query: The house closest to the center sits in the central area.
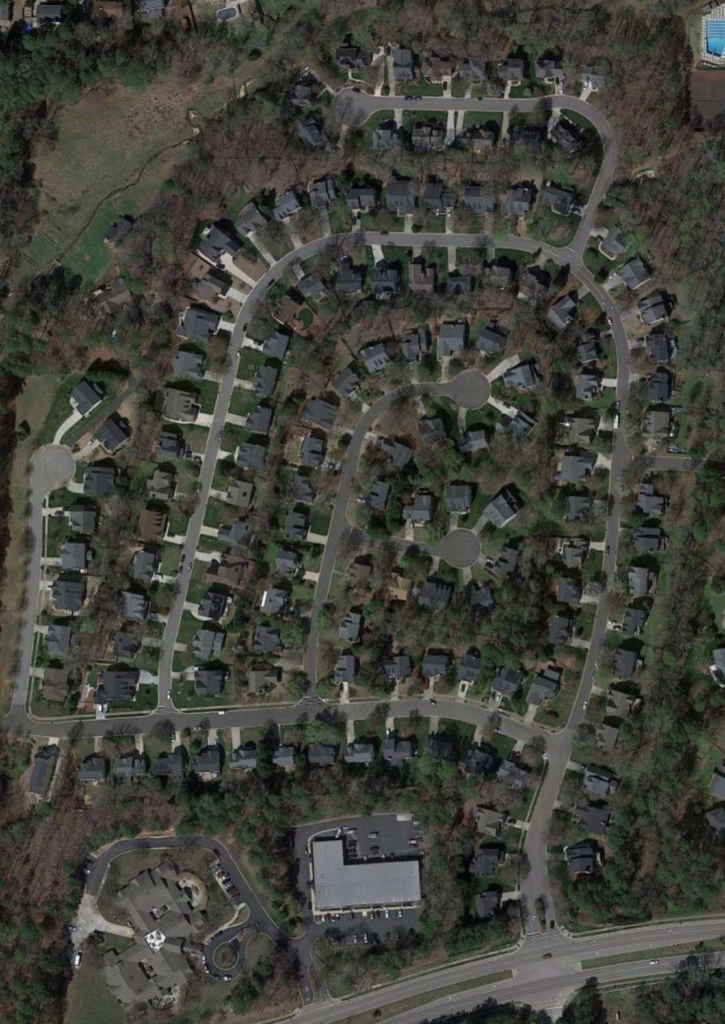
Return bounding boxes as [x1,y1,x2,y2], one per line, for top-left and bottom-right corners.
[368,480,391,510]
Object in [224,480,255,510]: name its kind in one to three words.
house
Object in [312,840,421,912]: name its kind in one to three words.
building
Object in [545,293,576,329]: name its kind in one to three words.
house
